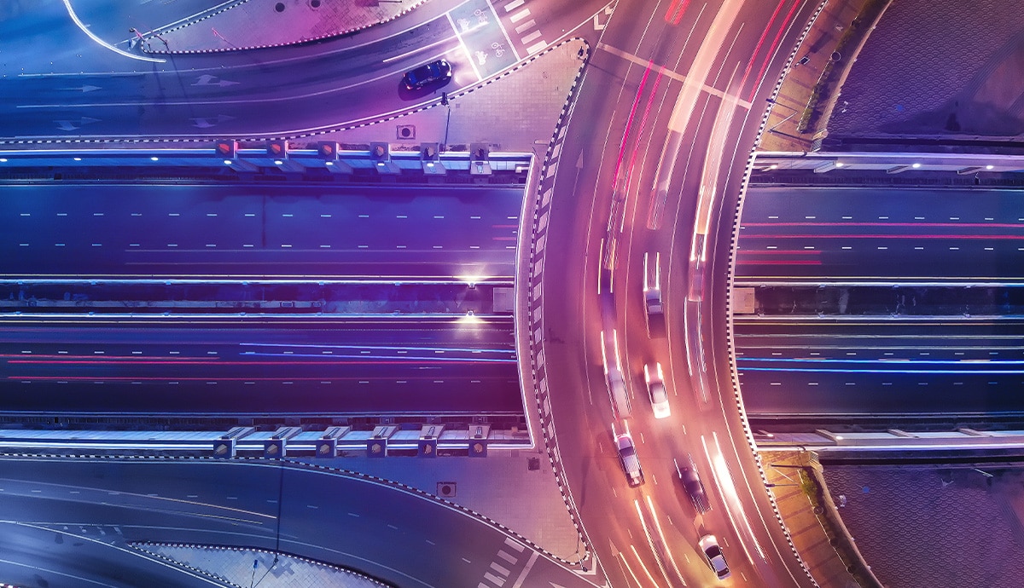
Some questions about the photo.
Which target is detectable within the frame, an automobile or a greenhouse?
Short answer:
automobile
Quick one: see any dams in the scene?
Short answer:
No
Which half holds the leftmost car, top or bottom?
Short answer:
top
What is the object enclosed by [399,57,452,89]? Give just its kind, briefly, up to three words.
car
